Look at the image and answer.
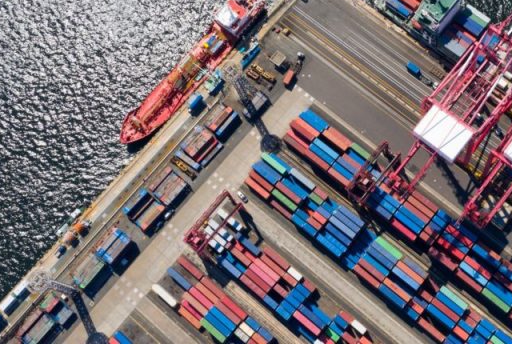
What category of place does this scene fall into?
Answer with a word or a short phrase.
port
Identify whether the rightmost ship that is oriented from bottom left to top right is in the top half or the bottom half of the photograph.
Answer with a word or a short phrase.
top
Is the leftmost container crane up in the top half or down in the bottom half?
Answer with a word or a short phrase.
bottom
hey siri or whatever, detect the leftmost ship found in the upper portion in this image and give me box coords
[119,0,270,142]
